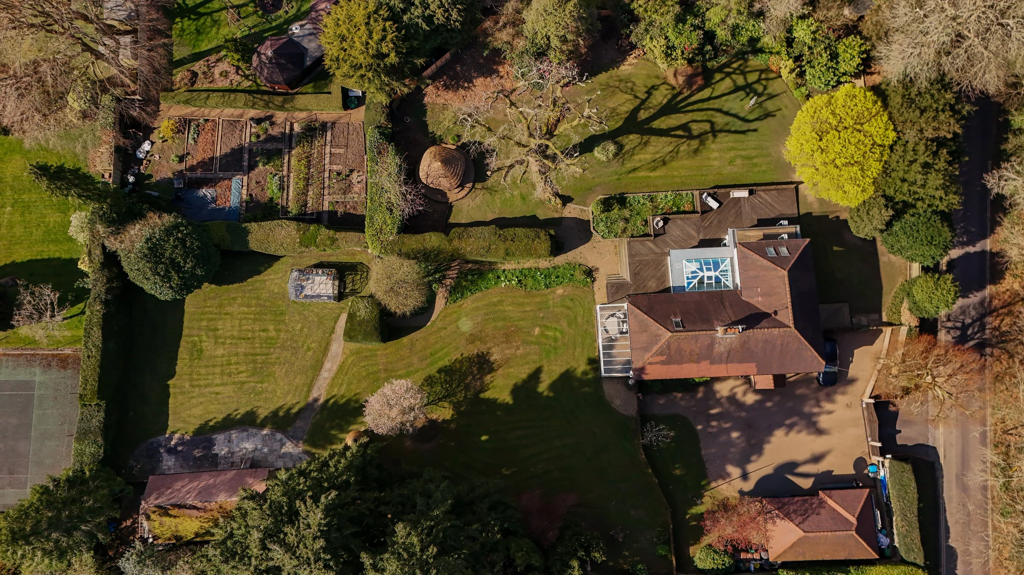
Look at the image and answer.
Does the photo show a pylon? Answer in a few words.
No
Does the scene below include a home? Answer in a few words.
Yes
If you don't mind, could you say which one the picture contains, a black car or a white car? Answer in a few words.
black car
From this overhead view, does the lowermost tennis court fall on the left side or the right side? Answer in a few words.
left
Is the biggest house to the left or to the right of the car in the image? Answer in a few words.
on its left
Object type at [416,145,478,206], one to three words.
shed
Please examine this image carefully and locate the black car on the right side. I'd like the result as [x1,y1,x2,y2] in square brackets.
[816,340,841,387]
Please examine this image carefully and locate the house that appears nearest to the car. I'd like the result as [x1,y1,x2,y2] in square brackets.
[625,224,826,389]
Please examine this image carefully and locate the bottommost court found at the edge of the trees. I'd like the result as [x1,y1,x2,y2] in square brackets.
[0,354,81,484]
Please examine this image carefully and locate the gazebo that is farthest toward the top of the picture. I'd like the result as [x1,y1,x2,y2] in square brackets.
[252,36,315,96]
